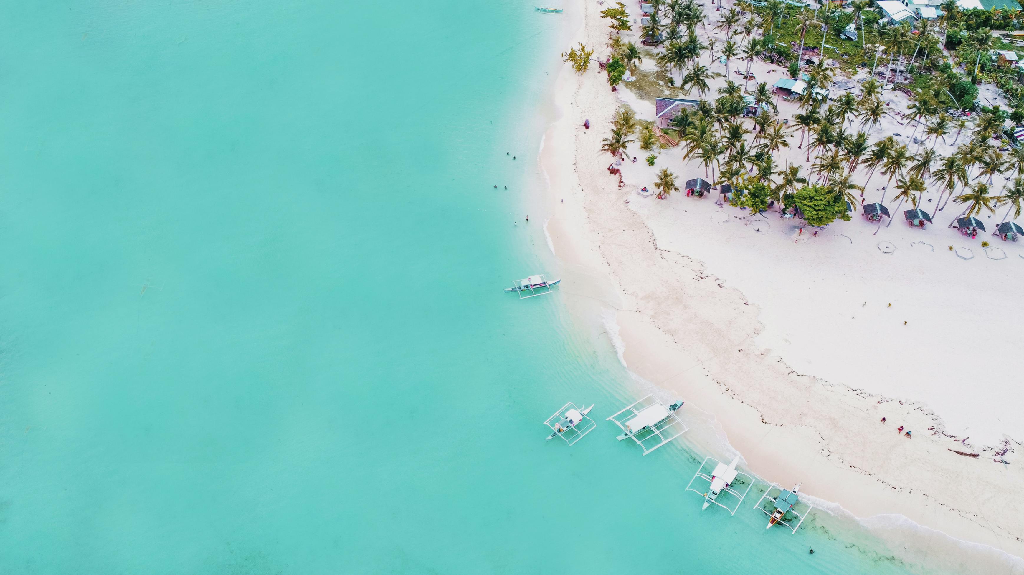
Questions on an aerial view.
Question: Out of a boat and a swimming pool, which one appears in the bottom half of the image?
boat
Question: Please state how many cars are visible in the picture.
0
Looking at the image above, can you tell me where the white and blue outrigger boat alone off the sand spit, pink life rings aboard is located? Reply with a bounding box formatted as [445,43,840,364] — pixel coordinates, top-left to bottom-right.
[503,274,561,299]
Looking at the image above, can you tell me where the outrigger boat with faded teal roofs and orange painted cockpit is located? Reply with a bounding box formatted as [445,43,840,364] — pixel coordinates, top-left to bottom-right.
[753,483,812,534]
